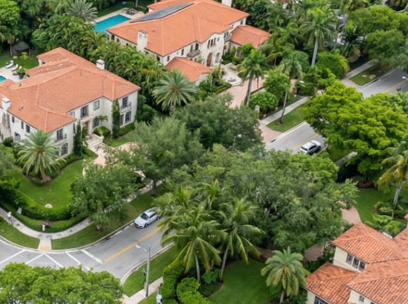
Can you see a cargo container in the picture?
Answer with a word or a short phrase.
No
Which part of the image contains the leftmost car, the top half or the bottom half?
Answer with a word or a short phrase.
bottom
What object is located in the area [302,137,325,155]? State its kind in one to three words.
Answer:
car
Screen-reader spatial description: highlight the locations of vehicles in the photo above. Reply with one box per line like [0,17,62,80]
[302,137,325,155]
[135,205,167,227]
